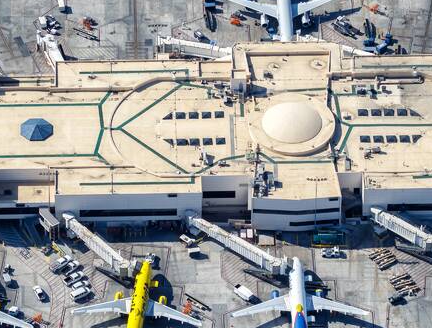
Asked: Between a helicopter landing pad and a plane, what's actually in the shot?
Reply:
plane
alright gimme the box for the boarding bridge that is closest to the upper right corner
[290,32,372,56]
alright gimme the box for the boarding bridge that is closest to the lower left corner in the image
[58,209,141,283]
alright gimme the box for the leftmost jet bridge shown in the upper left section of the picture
[31,31,68,73]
